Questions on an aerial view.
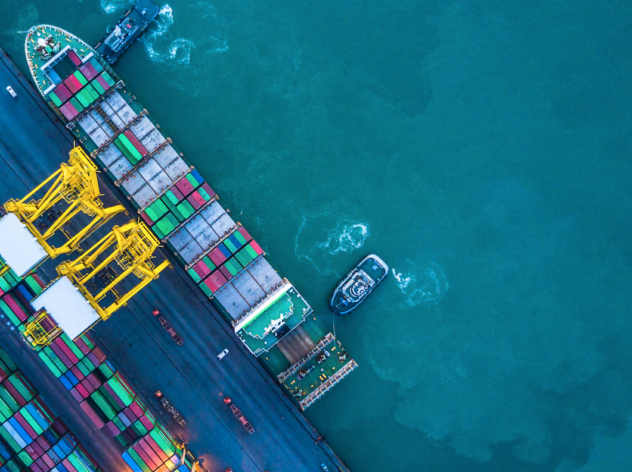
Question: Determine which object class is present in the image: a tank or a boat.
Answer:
boat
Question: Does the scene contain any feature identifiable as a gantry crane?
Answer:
Yes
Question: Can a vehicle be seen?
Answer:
Yes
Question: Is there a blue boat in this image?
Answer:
Yes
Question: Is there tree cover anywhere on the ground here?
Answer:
No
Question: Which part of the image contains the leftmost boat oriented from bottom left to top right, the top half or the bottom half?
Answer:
top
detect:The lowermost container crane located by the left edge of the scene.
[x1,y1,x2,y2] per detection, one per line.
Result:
[15,208,174,352]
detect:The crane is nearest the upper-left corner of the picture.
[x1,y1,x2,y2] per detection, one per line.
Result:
[0,132,129,280]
